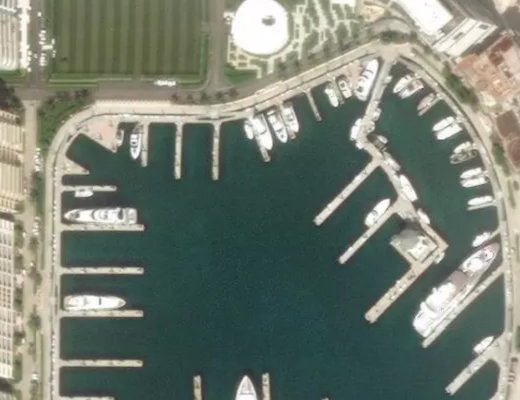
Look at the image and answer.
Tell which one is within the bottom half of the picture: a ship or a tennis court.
ship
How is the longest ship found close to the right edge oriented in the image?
diagonally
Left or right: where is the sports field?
left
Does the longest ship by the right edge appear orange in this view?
No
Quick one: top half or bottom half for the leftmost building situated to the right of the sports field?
top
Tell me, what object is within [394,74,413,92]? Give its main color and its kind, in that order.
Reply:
white boat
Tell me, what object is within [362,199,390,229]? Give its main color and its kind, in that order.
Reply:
white boat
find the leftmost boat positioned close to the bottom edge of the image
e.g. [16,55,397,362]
[235,374,255,400]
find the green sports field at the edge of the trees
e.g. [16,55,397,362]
[47,0,203,80]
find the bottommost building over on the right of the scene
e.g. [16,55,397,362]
[391,224,439,265]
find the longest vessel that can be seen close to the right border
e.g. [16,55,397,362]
[413,243,500,338]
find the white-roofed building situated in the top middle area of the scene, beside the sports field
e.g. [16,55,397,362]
[230,0,291,60]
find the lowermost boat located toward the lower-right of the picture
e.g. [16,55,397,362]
[472,337,494,354]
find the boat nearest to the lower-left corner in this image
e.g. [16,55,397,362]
[62,296,125,310]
